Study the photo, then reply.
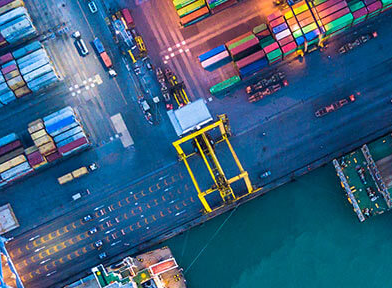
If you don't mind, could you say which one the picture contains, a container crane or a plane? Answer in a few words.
container crane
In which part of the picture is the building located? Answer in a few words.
bottom left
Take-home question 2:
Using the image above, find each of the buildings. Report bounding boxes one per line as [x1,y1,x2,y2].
[0,204,25,236]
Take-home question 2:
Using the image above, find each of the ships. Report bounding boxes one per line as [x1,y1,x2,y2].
[336,130,392,227]
[62,247,191,288]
